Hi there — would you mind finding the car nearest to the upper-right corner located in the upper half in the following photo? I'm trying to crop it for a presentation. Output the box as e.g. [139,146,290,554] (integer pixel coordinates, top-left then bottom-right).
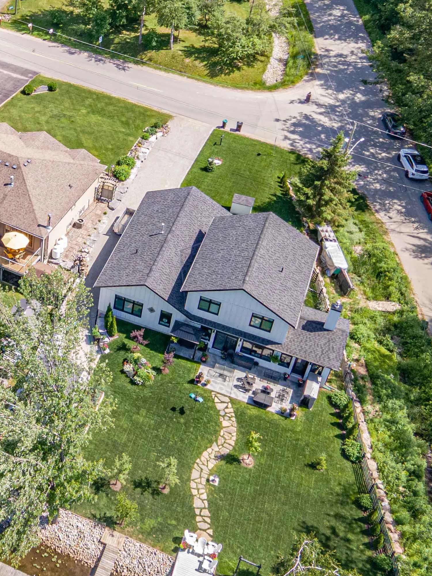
[378,112,414,139]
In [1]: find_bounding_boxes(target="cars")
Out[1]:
[396,147,432,180]
[378,112,414,139]
[418,189,432,220]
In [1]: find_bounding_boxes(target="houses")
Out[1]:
[0,123,102,263]
[93,187,354,397]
